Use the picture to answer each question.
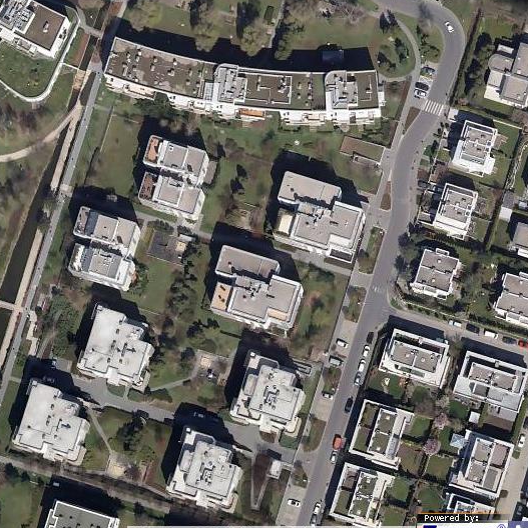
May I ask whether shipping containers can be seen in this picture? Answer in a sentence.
No, there's no shipping container here.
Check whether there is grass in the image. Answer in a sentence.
Yes, there is grass in the image.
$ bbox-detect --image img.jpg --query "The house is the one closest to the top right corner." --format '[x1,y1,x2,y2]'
[483,43,528,110]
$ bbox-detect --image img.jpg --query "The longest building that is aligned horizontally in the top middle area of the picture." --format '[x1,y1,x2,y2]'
[105,38,385,127]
